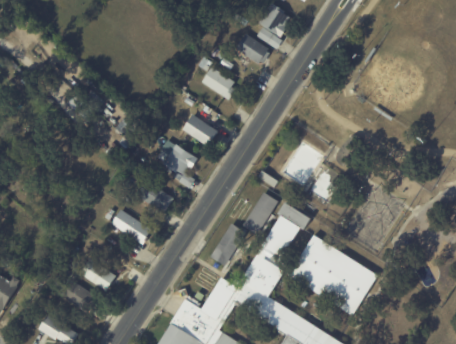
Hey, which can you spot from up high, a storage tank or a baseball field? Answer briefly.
baseball field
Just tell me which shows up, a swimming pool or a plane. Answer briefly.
swimming pool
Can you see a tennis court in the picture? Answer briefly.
Yes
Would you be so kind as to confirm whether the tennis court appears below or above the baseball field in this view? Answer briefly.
below it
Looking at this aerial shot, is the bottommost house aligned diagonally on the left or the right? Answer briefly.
left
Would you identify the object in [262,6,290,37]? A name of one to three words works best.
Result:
house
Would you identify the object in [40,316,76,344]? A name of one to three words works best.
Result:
house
